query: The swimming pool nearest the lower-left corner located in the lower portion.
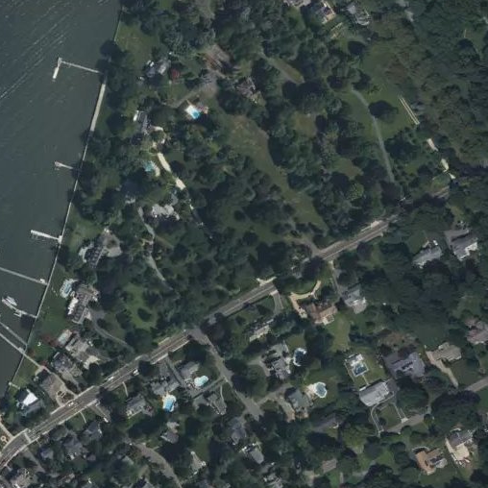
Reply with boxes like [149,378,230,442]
[162,396,176,412]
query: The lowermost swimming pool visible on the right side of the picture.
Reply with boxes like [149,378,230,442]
[313,382,327,399]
